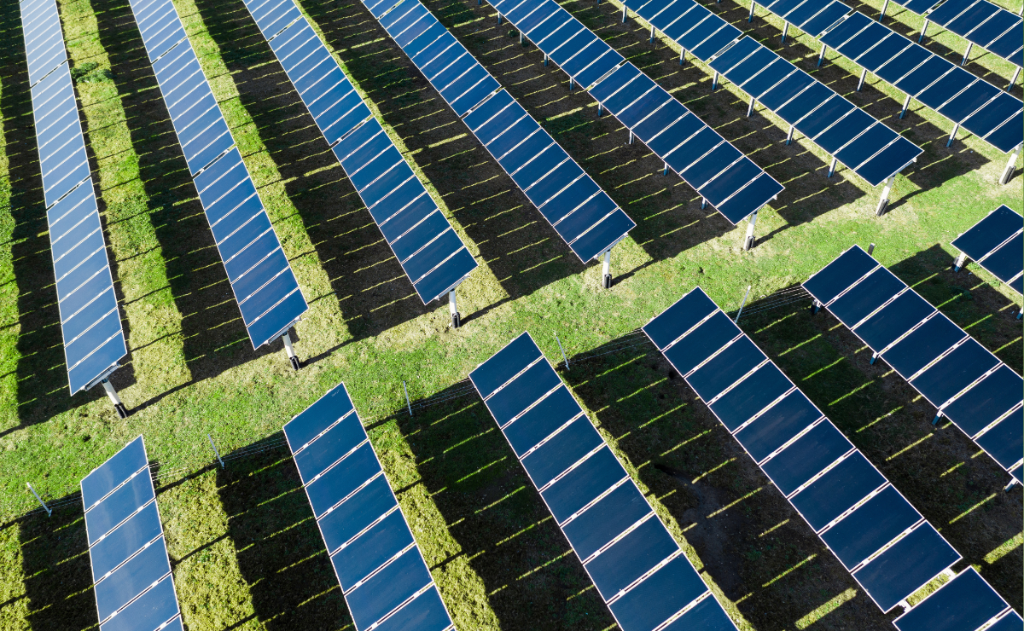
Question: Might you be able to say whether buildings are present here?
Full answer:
No, I find no building anywhere in the image.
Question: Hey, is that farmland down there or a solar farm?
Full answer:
It's a solar farm.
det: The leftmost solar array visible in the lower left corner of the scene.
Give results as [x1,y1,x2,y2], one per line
[81,435,183,631]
